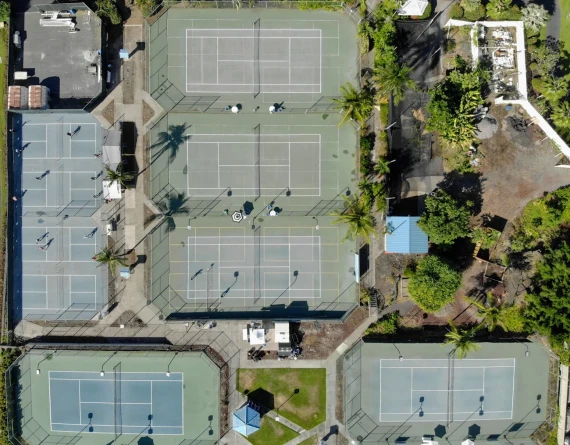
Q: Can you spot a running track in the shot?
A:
No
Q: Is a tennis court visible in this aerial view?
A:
Yes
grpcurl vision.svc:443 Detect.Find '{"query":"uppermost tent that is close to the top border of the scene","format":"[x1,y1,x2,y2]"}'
[394,0,428,21]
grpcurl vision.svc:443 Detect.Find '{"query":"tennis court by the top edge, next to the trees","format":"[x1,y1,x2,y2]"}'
[150,7,358,113]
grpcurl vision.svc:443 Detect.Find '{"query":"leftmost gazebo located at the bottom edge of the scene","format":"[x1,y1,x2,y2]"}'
[234,403,259,437]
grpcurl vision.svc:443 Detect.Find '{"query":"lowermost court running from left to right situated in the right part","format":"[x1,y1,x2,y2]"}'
[345,342,549,443]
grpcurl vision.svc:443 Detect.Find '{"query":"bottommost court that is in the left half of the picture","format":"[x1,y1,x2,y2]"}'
[13,349,220,445]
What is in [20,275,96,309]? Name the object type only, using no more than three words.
sports court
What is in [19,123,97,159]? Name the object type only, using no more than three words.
sports court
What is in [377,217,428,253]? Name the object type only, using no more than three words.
building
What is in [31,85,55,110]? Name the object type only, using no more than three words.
shed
